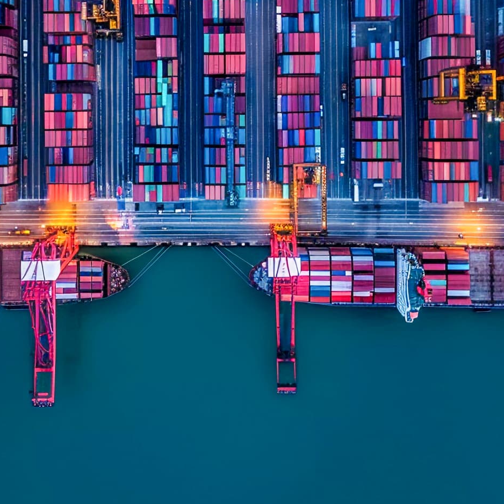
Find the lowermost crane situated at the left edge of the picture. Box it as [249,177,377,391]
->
[19,226,79,411]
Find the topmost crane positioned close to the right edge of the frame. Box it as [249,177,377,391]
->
[433,68,499,110]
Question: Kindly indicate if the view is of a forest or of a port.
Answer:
port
